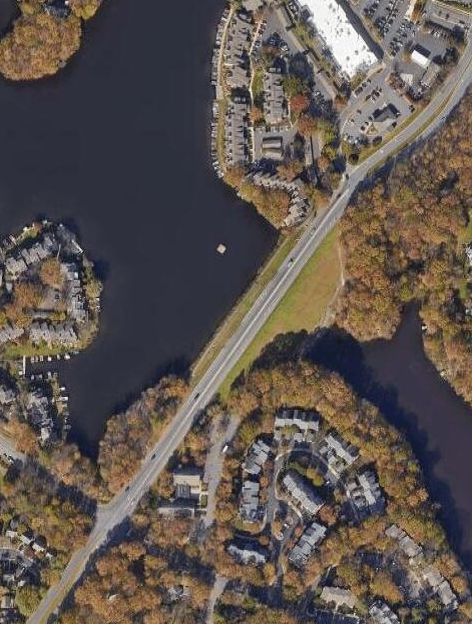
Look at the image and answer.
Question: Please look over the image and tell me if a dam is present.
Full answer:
Yes, I can see a dam in this picture.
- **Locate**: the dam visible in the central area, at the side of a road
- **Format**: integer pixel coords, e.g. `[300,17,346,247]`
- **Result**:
[189,237,283,377]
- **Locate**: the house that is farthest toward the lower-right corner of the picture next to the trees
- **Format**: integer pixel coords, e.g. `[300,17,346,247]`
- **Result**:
[436,582,459,610]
